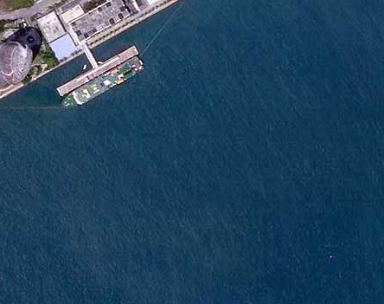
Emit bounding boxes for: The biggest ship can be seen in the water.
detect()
[63,58,143,105]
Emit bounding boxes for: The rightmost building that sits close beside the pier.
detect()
[69,0,130,43]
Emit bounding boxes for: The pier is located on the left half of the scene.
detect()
[58,46,138,96]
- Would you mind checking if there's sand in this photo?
No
